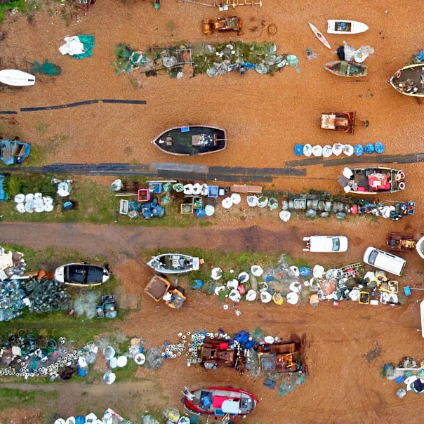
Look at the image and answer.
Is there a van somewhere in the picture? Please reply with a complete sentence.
Yes, this view includes a van.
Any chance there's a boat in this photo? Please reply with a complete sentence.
Yes, this view includes a boat.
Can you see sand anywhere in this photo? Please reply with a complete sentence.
Yes, some sand is visible.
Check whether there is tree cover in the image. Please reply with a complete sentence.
No, the picture contains no tree cover.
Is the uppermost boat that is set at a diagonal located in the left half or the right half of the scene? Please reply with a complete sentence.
It is on the right.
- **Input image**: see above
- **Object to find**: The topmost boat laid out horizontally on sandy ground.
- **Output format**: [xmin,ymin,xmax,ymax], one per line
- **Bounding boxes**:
[328,20,369,35]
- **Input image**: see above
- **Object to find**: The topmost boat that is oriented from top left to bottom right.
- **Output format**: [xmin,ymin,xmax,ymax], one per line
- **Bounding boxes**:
[308,22,331,49]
